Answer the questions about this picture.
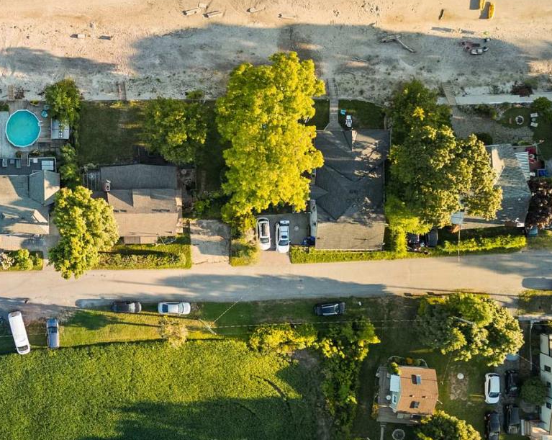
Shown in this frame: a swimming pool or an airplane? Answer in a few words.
swimming pool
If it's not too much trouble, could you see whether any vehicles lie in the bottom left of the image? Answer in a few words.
Yes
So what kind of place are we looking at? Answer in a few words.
residential area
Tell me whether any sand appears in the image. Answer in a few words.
Yes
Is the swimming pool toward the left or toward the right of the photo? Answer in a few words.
left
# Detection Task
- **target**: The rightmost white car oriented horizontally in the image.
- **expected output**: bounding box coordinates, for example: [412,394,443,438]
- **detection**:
[157,300,190,316]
